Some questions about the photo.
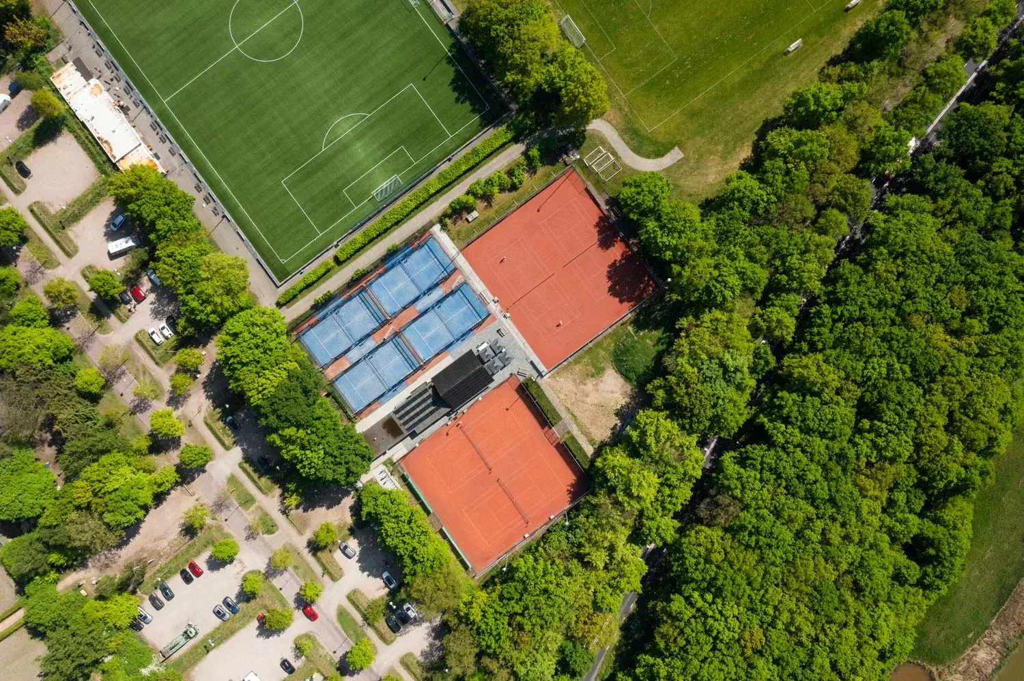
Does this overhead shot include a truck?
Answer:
Yes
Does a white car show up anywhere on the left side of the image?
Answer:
Yes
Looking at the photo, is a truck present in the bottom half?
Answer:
Yes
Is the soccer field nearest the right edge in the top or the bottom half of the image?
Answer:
top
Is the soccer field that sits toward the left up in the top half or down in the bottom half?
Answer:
top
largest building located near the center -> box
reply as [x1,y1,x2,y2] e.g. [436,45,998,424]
[364,350,494,457]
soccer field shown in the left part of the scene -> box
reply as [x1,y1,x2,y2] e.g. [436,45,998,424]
[69,0,509,286]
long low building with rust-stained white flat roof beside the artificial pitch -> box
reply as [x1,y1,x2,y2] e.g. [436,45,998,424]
[50,53,174,191]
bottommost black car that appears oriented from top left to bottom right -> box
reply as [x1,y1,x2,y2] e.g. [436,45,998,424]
[280,658,295,676]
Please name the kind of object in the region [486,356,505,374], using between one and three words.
umbrella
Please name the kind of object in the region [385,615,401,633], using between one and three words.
car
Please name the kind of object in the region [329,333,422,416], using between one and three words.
sports court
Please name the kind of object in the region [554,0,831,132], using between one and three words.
soccer field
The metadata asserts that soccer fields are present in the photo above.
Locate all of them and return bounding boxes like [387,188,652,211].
[554,0,831,132]
[69,0,509,286]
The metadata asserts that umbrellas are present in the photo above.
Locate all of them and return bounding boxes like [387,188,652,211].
[497,347,516,366]
[477,345,496,363]
[486,356,505,374]
[488,336,507,354]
